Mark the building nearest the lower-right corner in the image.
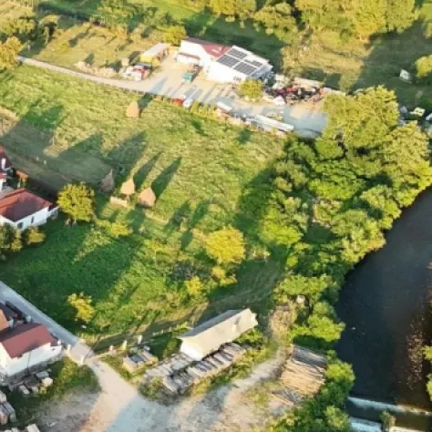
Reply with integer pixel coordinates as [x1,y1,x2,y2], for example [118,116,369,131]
[173,307,259,367]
